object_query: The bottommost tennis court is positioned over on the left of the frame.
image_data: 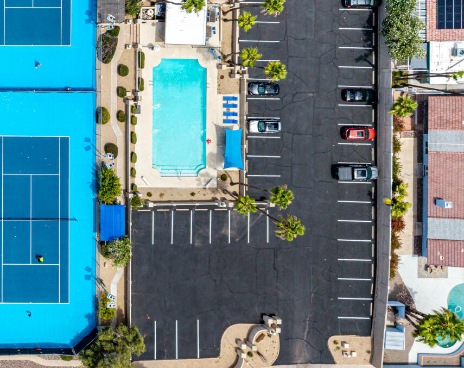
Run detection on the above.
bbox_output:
[0,92,96,349]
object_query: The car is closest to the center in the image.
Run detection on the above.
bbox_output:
[249,118,284,135]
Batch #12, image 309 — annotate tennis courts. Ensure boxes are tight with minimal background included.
[0,92,96,349]
[0,0,97,91]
